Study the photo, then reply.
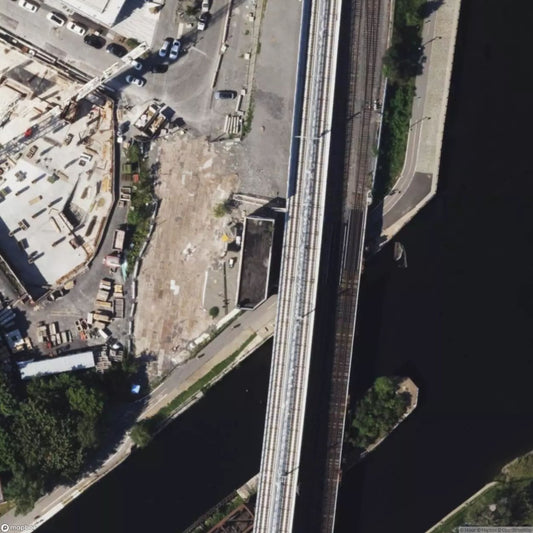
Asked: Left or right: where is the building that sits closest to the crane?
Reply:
left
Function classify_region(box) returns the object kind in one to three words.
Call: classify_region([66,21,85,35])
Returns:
car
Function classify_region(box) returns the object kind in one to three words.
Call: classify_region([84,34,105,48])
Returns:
car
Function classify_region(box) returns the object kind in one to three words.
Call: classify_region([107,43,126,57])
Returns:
vehicle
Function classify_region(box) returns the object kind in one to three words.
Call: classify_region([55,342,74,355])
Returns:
vehicle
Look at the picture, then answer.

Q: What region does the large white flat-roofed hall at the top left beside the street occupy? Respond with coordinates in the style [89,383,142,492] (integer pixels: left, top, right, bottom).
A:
[58,0,126,29]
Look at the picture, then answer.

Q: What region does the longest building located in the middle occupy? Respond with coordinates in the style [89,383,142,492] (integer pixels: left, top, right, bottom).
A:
[236,215,275,310]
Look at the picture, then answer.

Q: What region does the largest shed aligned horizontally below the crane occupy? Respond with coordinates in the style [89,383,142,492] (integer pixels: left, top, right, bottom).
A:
[19,351,95,379]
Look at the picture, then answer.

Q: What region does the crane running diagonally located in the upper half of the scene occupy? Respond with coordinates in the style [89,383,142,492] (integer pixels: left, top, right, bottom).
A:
[0,40,149,164]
